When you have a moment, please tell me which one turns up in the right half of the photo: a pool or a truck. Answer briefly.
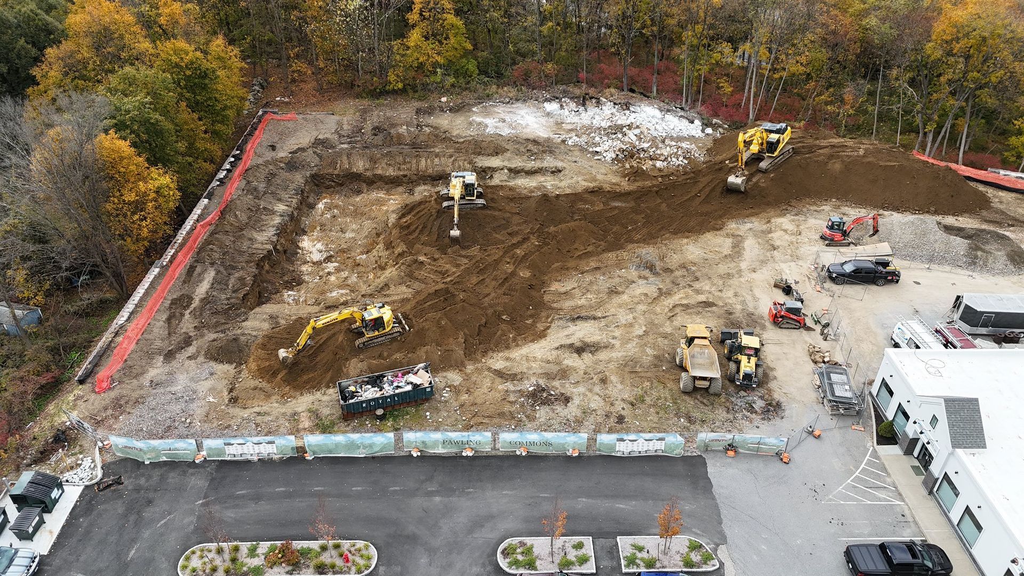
truck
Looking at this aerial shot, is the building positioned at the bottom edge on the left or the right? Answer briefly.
right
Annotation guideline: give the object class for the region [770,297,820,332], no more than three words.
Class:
work vehicle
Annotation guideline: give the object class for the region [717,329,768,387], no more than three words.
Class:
work vehicle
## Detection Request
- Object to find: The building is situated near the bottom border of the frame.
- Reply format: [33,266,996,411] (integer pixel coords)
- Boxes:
[870,349,1024,576]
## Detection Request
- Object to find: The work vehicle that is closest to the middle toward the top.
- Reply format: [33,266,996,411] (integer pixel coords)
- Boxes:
[442,178,482,235]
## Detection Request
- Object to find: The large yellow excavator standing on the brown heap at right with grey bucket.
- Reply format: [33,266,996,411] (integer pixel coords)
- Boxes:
[720,121,792,190]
